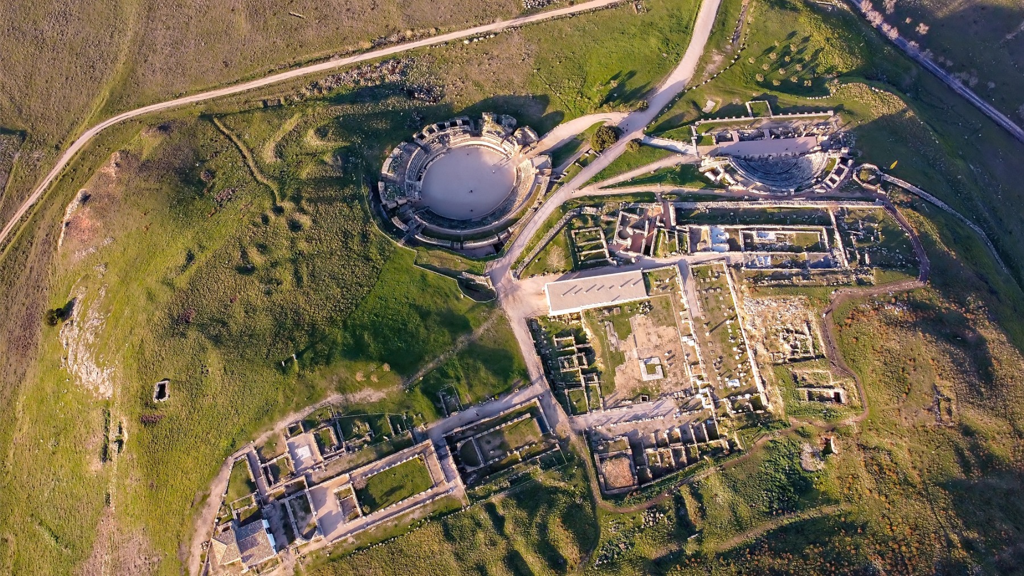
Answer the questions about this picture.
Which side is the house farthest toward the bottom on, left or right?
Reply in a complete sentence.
The house farthest toward the bottom appears in the left half of the scene.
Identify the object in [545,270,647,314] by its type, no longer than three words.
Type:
building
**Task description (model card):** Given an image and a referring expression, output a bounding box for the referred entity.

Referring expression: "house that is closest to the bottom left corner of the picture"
[212,519,282,567]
